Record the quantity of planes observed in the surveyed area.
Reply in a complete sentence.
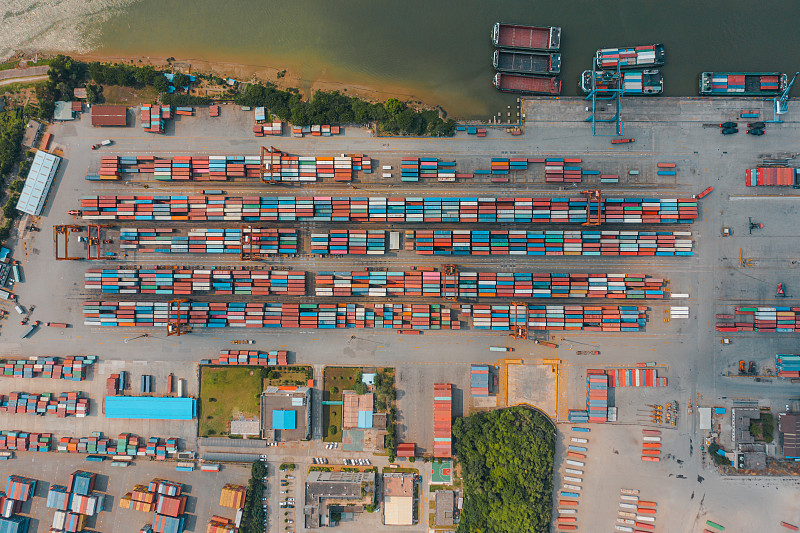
The picture shows no planes.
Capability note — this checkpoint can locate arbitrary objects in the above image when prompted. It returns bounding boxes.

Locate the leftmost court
[344,430,363,451]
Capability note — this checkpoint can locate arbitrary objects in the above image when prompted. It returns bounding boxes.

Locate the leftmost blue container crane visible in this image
[580,58,625,135]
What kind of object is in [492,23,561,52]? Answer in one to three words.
ship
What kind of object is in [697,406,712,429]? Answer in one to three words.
building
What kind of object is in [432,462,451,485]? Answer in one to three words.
basketball court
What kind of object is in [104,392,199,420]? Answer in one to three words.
shed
